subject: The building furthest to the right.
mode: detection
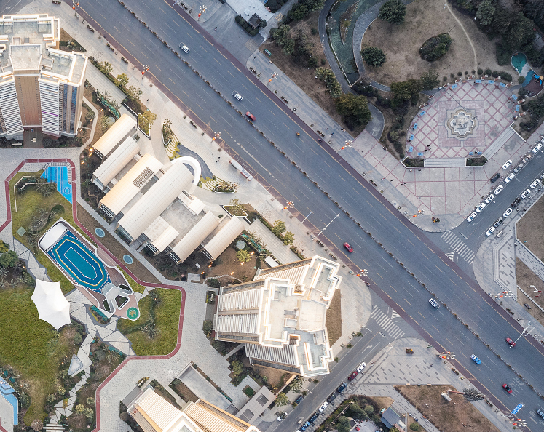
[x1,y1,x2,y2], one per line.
[379,406,406,429]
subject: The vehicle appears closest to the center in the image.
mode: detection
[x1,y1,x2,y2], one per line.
[227,155,256,182]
